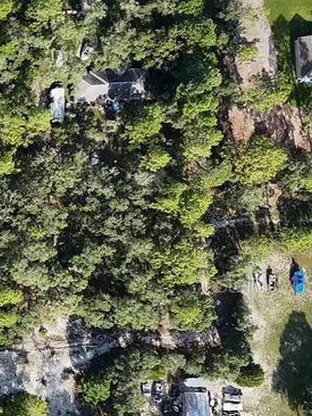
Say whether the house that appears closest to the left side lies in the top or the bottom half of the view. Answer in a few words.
top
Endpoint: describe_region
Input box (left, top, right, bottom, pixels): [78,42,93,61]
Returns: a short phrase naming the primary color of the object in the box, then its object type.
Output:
white car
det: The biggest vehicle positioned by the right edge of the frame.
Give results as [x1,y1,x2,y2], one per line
[292,269,304,293]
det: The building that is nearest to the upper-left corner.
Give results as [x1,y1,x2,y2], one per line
[71,68,146,106]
